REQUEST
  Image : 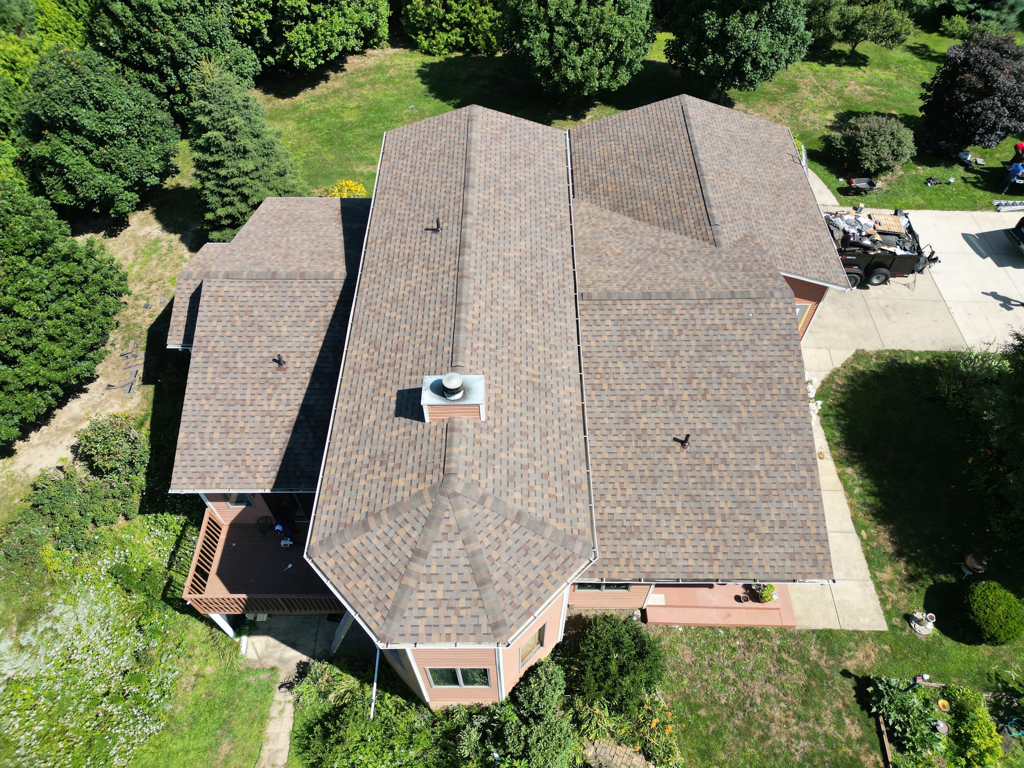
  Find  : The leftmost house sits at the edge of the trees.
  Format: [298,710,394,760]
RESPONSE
[166,95,853,714]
